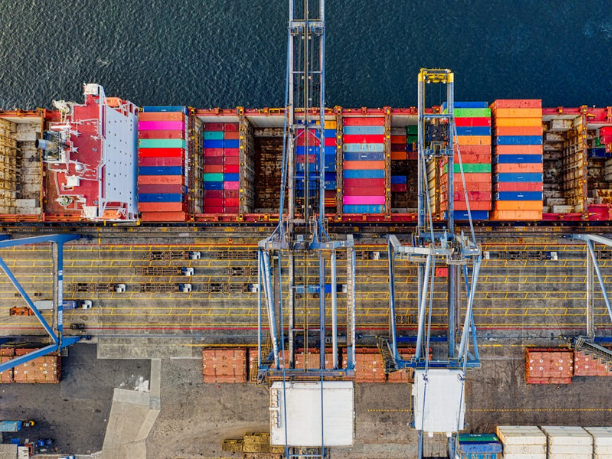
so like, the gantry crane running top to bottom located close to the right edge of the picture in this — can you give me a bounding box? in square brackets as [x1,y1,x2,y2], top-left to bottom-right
[551,232,612,369]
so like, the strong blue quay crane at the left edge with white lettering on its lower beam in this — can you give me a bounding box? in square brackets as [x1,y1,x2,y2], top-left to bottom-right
[0,231,100,377]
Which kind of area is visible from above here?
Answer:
port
